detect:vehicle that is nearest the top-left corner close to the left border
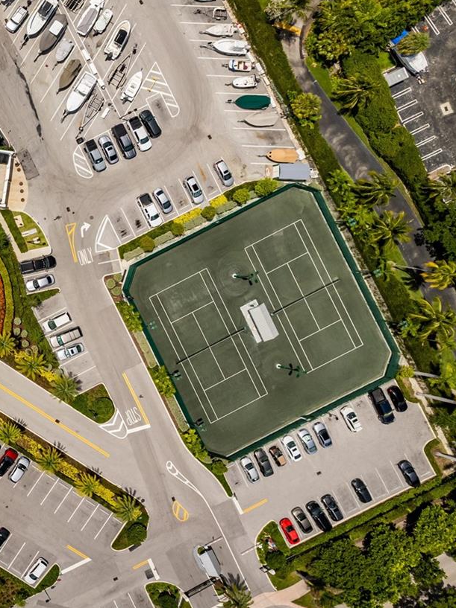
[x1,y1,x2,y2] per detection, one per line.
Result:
[6,5,27,33]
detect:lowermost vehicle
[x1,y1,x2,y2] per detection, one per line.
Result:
[26,556,48,586]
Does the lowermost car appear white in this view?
Yes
